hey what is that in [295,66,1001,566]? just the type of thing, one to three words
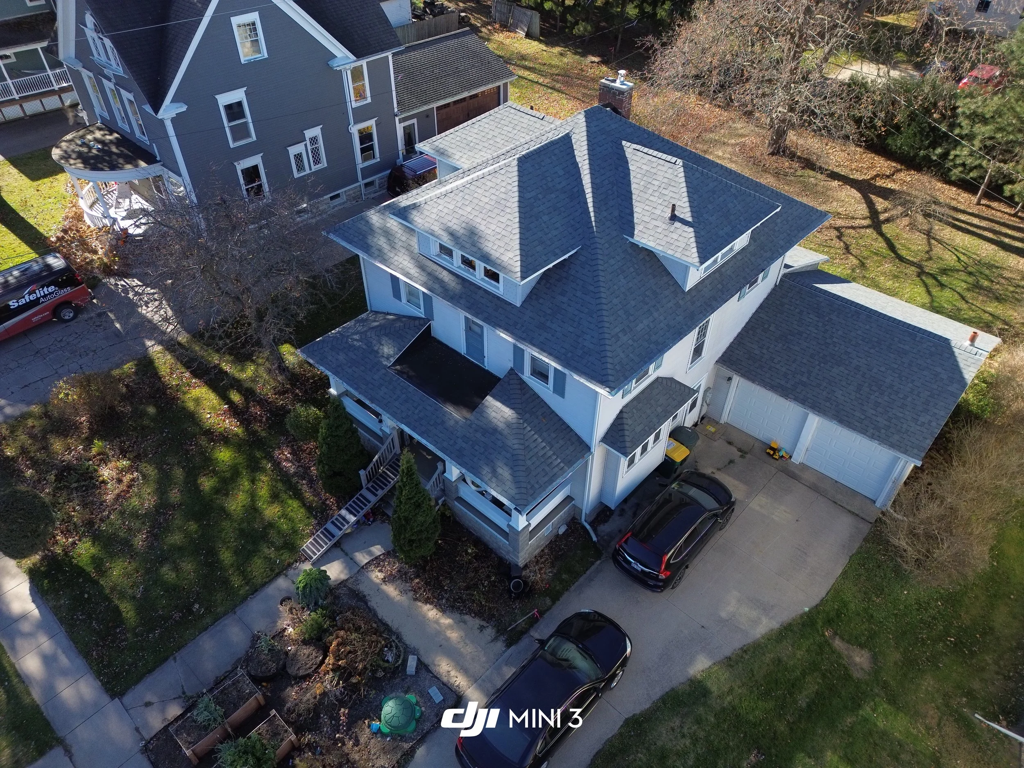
house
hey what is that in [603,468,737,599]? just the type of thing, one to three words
car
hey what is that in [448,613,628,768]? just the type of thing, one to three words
car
